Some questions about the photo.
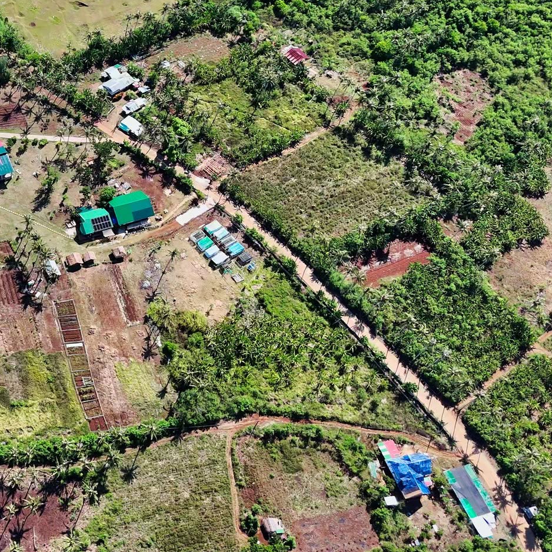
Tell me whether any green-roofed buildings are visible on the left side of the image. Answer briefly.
Yes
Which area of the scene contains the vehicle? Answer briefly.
bottom right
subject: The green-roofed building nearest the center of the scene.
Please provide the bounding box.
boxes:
[107,192,154,233]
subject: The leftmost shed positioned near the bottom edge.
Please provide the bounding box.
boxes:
[261,519,285,541]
